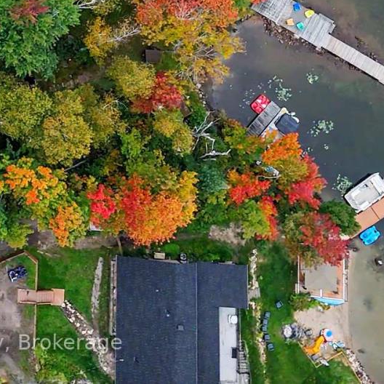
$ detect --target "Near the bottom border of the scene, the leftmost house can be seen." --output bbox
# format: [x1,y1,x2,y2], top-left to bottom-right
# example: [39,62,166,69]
[114,254,249,384]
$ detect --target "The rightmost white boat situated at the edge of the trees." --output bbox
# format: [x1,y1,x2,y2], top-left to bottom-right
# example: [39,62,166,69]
[344,173,384,211]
